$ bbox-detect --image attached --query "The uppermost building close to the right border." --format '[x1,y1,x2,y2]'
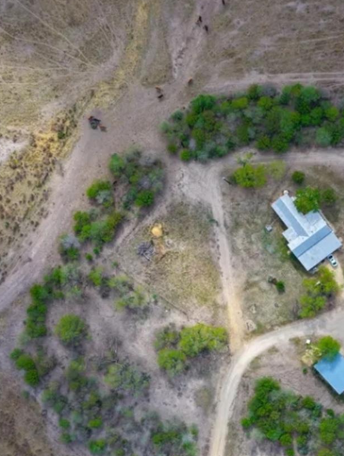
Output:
[272,195,343,273]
